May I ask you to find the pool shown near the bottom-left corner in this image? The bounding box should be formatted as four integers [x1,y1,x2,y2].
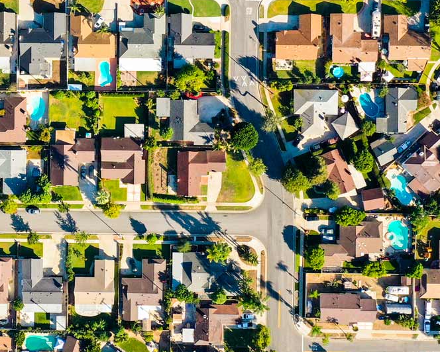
[24,335,55,352]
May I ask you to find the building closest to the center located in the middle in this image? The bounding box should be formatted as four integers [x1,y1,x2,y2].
[178,150,227,196]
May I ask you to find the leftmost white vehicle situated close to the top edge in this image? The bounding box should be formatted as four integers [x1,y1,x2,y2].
[93,14,106,31]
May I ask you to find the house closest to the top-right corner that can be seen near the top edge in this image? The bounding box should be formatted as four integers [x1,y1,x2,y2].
[383,15,433,72]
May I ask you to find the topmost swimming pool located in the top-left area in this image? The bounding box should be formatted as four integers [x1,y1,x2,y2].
[98,60,113,86]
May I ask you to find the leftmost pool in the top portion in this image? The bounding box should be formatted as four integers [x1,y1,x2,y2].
[31,96,47,122]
